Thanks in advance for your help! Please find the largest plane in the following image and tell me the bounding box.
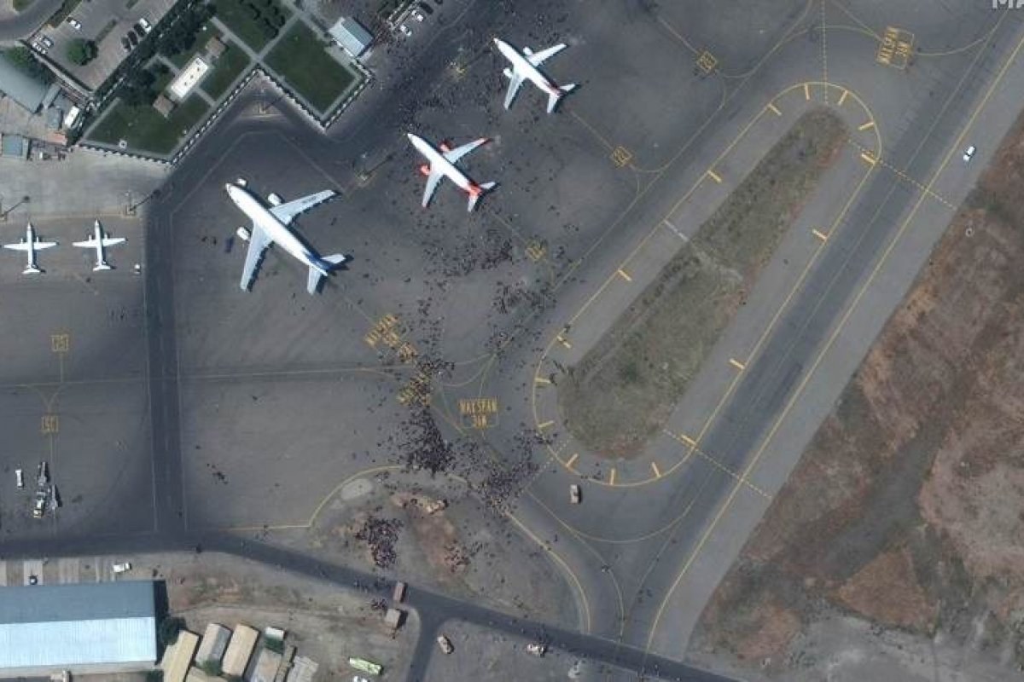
[226,184,346,293]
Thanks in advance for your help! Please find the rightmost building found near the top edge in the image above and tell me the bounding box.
[330,15,373,60]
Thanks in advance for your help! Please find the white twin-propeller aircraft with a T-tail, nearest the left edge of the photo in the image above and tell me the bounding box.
[4,222,56,272]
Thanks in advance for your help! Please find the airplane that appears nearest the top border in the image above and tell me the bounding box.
[494,38,576,112]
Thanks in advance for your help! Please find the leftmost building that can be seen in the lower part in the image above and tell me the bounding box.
[0,581,157,682]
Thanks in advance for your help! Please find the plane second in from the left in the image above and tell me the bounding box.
[72,220,125,269]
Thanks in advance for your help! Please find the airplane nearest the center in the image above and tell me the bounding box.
[408,134,496,210]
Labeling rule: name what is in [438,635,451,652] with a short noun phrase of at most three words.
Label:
vehicle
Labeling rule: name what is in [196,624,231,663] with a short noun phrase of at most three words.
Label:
shed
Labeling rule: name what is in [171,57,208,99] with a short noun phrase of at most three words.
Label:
building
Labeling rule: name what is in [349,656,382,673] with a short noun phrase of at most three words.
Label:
vehicle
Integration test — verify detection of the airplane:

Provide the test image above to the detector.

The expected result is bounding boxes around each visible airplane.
[4,222,56,272]
[72,220,125,269]
[494,38,576,112]
[408,134,496,210]
[226,184,346,293]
